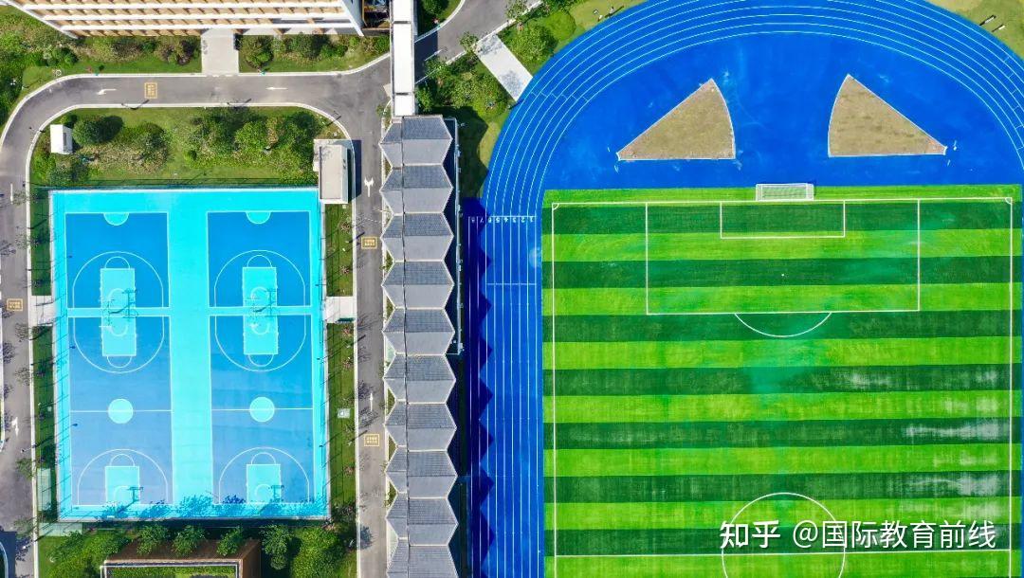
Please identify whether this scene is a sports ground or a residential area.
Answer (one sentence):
The picture captures a sports ground.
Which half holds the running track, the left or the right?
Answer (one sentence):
It is on the right.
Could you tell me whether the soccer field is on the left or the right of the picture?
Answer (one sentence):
The soccer field appears in the right half of the scene.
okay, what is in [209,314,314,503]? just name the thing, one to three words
basketball court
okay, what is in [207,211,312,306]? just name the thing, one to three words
basketball court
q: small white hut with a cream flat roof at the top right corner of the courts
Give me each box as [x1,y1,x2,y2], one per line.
[319,144,349,206]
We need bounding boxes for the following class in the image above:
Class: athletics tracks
[462,0,1024,578]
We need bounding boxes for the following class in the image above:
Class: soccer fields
[542,185,1022,578]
